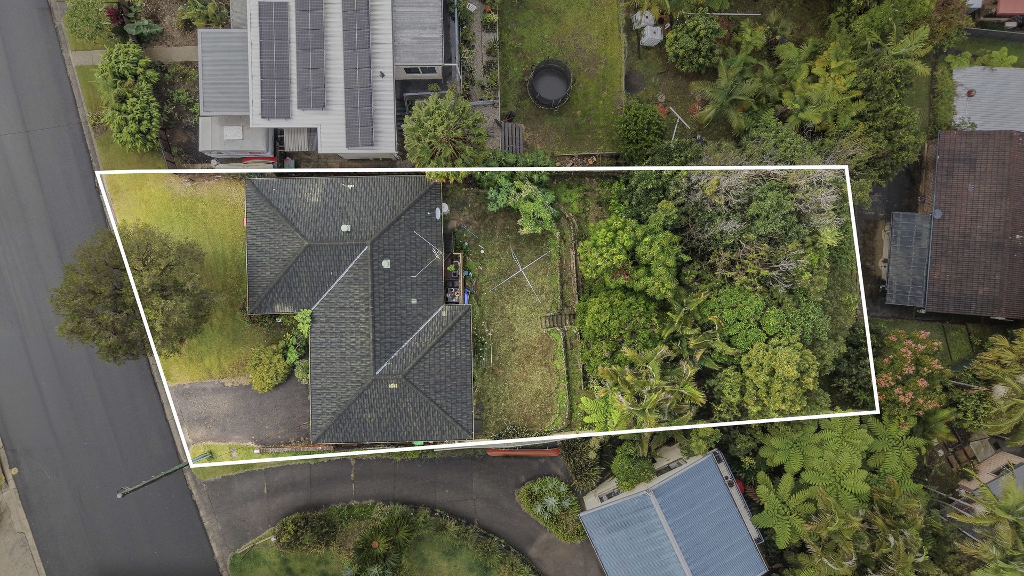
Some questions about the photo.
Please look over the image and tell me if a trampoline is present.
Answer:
Yes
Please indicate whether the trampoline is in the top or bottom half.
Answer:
top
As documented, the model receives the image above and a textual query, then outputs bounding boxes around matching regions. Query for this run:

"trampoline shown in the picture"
[526,57,575,115]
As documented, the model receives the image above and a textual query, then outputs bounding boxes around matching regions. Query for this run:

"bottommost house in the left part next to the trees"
[243,174,475,446]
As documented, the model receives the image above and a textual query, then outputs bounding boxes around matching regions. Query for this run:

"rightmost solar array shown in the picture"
[342,0,373,150]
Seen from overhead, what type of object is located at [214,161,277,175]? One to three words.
boat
